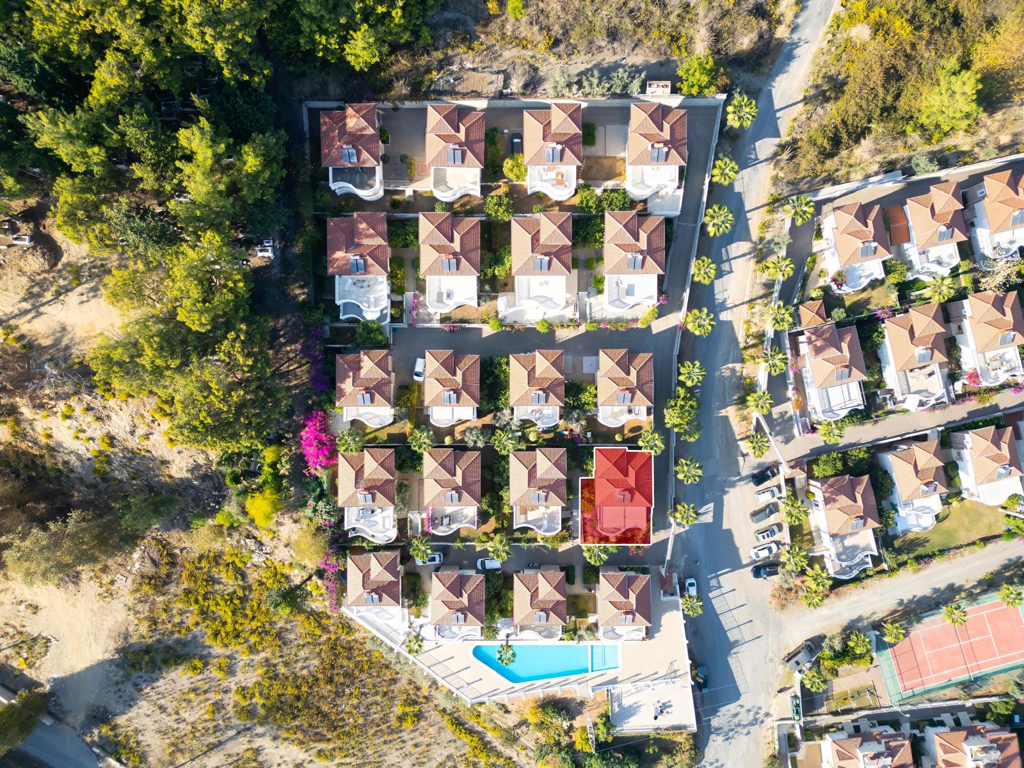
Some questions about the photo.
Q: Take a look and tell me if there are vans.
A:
Yes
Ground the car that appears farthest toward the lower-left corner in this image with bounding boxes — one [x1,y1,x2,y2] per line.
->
[416,550,445,567]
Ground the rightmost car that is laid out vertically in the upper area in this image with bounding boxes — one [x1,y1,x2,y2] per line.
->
[509,129,523,157]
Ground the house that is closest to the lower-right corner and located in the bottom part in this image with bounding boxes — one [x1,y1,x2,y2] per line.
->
[919,707,1019,768]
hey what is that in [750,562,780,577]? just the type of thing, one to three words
car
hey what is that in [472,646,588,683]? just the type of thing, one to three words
swimming pool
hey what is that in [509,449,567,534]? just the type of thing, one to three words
house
